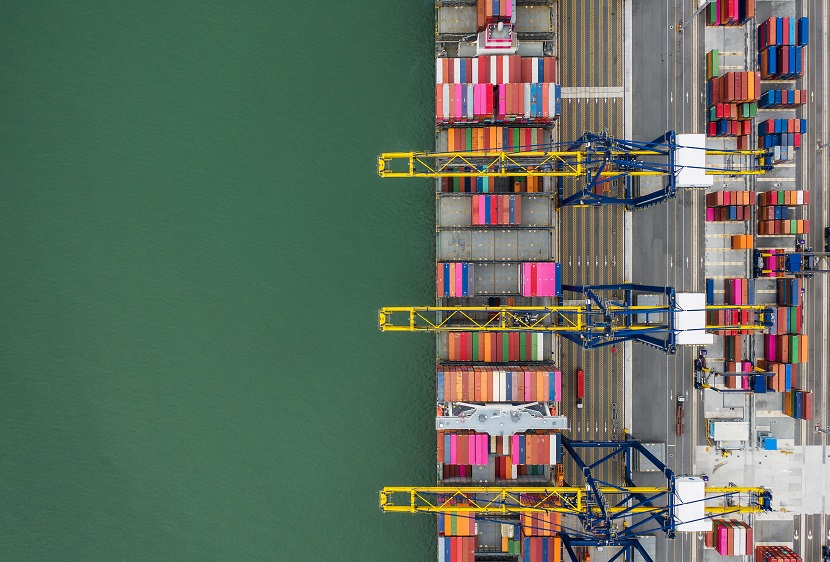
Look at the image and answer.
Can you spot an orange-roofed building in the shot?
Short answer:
No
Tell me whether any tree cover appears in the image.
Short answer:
No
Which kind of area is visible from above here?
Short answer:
port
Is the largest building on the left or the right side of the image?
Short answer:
right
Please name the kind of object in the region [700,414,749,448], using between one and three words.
building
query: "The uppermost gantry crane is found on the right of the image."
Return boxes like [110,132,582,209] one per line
[375,127,779,213]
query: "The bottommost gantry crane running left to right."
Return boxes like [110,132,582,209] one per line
[561,525,654,562]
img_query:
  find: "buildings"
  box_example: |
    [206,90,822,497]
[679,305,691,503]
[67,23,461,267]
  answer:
[760,436,777,449]
[700,414,749,448]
